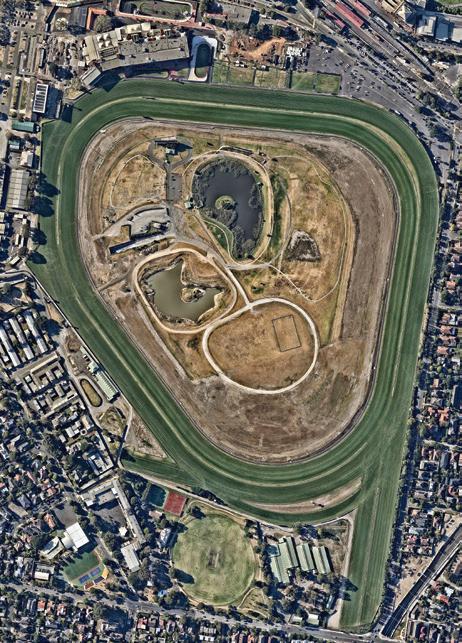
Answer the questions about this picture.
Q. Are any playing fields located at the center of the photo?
No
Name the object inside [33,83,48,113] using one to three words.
building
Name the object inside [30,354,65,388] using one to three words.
building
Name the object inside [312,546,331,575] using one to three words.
shed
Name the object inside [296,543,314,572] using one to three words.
shed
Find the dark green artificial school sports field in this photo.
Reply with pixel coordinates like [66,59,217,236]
[62,549,110,592]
